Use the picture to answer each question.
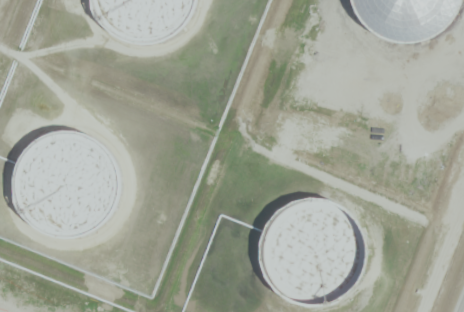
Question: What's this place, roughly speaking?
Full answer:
The picture captures an industrial area.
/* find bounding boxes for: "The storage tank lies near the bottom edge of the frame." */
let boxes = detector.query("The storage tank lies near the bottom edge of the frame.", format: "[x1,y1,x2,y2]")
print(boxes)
[258,198,367,306]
